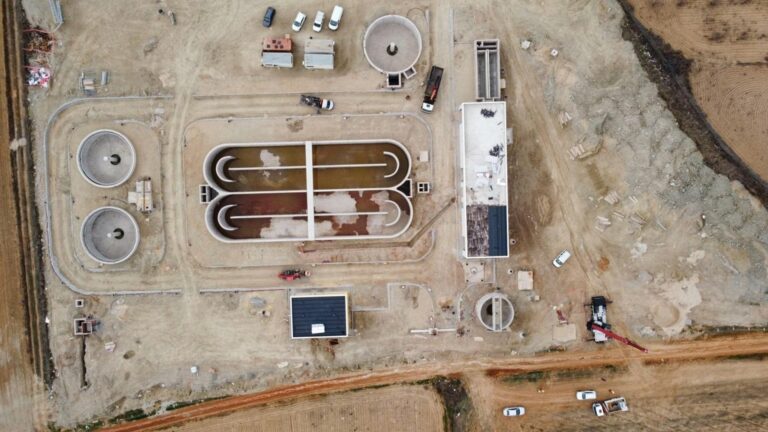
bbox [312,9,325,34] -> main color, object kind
white vehicle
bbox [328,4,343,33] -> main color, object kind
white vehicle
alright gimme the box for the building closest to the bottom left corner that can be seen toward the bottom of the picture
[290,292,350,338]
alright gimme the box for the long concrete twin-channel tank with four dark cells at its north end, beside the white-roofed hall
[474,39,505,102]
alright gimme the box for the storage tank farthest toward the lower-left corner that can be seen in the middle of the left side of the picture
[81,206,142,265]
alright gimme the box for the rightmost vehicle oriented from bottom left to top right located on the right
[551,248,572,268]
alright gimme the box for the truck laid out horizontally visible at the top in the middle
[300,94,337,115]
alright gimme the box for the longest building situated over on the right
[458,101,510,258]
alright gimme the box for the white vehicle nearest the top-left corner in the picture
[292,11,307,32]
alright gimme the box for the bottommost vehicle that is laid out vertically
[421,65,444,115]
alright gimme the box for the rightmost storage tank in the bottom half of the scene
[476,292,514,332]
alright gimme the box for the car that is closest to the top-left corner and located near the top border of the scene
[262,6,277,28]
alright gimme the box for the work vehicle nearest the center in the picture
[276,268,304,280]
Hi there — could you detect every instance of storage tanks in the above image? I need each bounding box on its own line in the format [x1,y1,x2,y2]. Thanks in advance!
[476,292,514,332]
[81,206,142,265]
[364,14,422,74]
[77,129,139,188]
[474,39,505,102]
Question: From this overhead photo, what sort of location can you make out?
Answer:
industrial area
